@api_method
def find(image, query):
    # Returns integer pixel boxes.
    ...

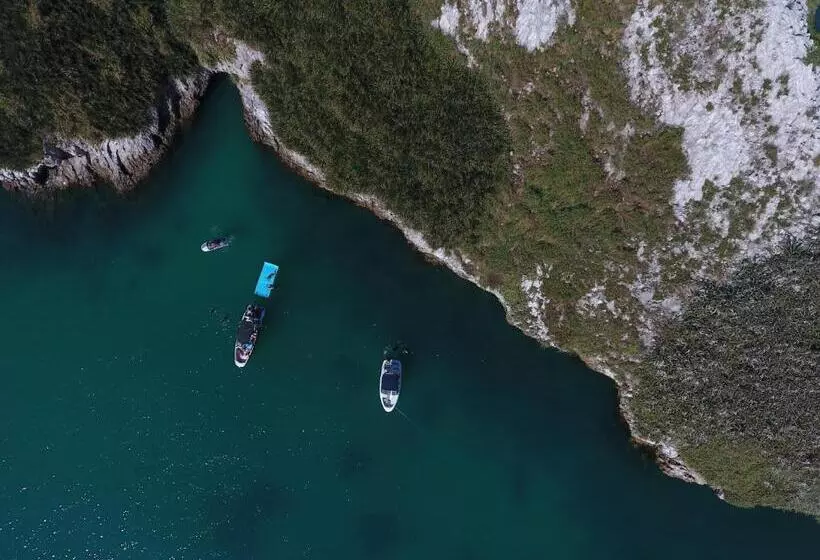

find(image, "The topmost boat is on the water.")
[201,234,231,249]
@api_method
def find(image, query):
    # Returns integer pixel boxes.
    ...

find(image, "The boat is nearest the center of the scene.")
[380,357,403,413]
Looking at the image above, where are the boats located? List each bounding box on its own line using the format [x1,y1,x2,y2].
[201,234,231,249]
[235,303,263,365]
[380,357,403,413]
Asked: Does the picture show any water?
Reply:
Yes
